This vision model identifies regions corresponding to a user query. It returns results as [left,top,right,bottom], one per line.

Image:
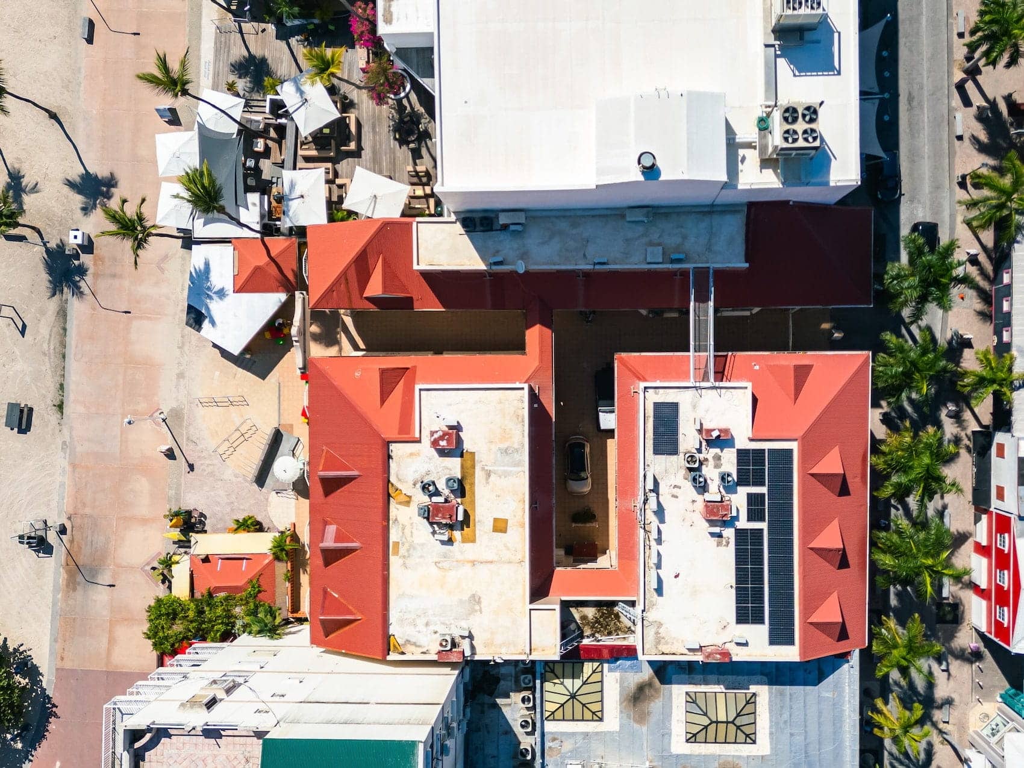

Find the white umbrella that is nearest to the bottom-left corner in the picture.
[275,456,302,482]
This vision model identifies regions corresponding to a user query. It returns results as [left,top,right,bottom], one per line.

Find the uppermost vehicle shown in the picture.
[872,149,902,206]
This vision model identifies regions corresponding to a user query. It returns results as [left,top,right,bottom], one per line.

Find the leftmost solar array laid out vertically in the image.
[653,402,679,455]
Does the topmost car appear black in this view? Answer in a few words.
Yes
